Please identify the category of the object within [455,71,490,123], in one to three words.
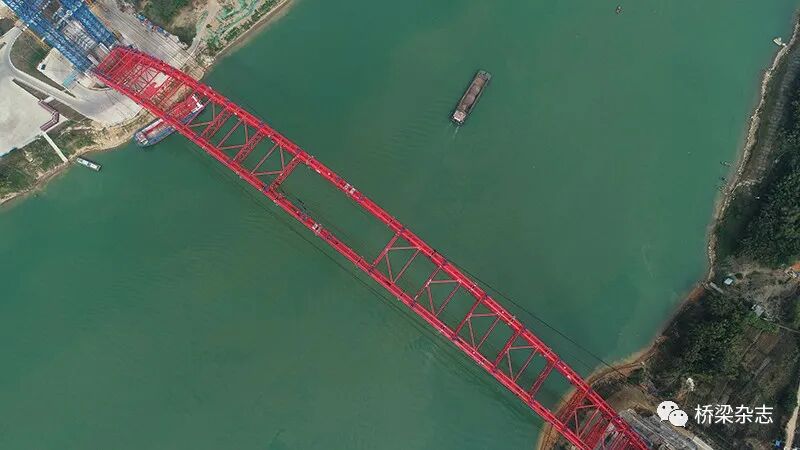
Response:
ship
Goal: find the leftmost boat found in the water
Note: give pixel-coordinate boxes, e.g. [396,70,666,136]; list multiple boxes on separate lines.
[77,157,101,170]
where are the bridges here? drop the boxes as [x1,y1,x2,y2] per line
[92,44,652,450]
